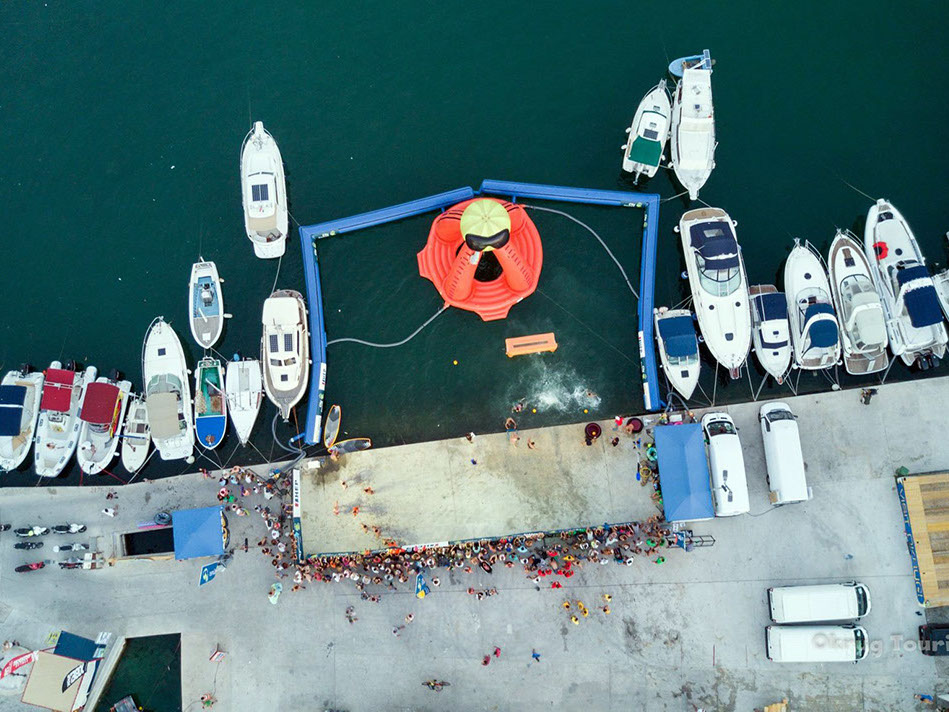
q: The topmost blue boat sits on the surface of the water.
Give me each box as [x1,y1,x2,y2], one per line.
[659,54,715,82]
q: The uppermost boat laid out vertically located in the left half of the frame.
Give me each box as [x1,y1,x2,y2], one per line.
[241,105,303,290]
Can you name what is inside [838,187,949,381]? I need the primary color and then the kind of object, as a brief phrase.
white boat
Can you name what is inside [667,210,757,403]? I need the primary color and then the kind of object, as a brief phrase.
white boat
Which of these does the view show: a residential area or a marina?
marina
